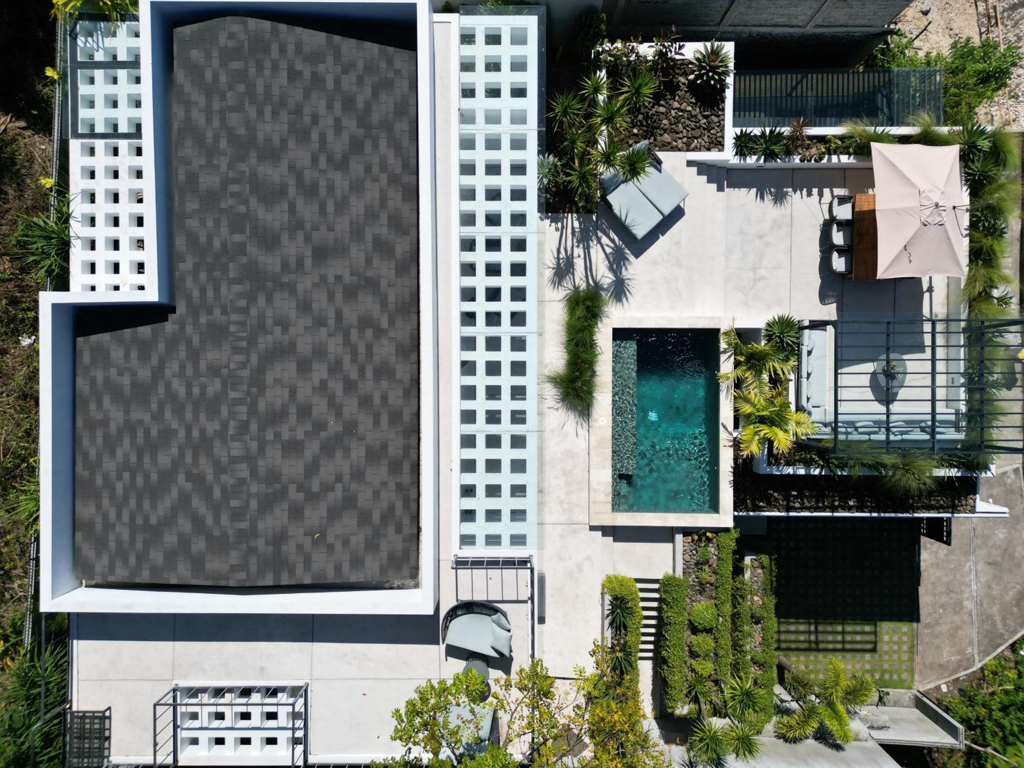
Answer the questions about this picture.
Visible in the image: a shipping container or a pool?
pool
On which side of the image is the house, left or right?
left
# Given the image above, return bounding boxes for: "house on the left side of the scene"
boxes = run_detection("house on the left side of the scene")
[40,0,538,761]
